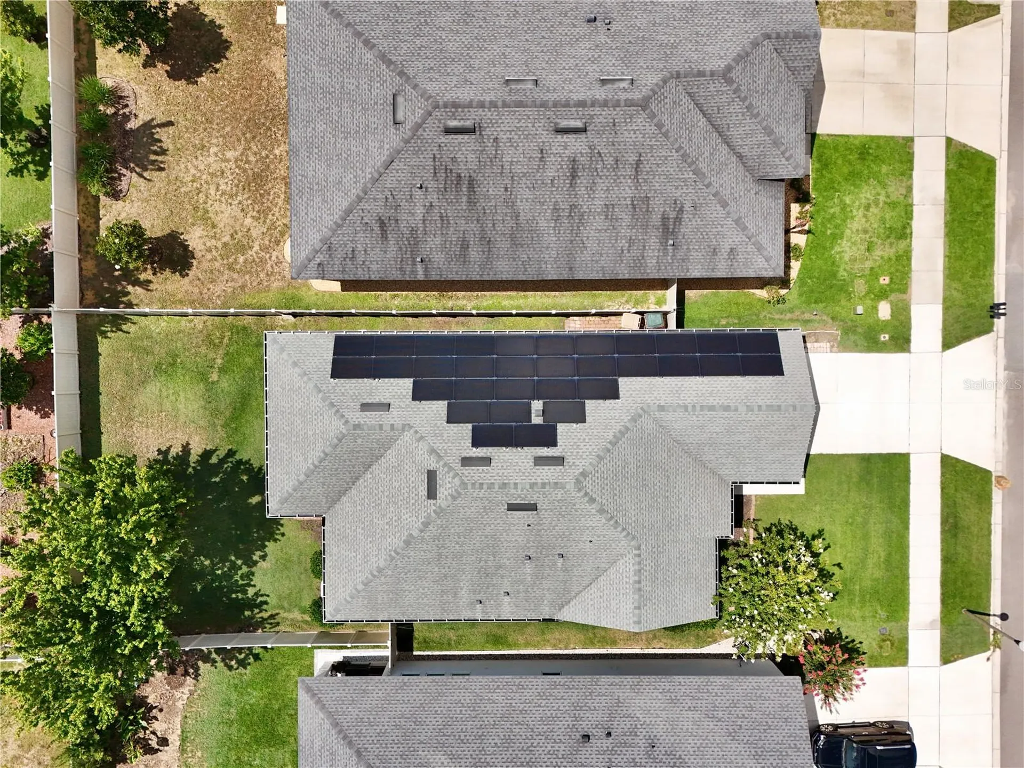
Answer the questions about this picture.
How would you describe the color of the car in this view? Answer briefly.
black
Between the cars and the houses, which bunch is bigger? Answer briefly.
houses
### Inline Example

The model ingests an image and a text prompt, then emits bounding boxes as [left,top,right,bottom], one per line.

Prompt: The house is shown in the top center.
[289,0,821,282]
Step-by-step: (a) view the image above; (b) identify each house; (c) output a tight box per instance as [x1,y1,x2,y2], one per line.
[289,0,821,282]
[295,659,813,768]
[264,326,818,632]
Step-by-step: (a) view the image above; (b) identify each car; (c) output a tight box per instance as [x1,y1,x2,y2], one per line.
[808,721,914,768]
